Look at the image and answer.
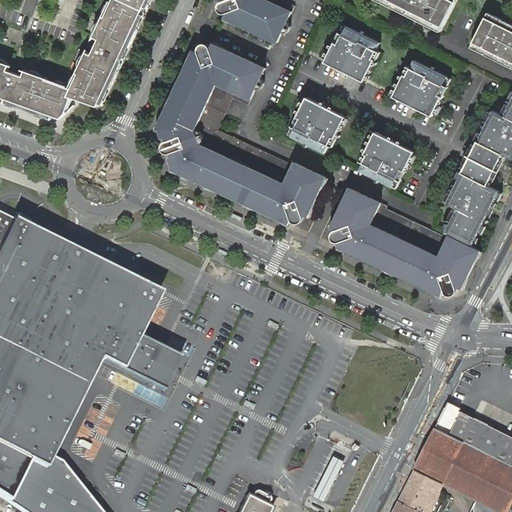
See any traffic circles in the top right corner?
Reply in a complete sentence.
No, the scene shows no traffic circle in the top right corner.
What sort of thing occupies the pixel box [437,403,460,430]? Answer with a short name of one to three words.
shed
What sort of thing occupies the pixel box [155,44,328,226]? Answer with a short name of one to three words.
building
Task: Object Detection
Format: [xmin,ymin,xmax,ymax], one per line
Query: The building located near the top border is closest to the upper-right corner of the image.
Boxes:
[470,19,512,70]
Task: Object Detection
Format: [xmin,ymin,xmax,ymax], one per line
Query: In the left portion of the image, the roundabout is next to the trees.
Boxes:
[56,130,149,224]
